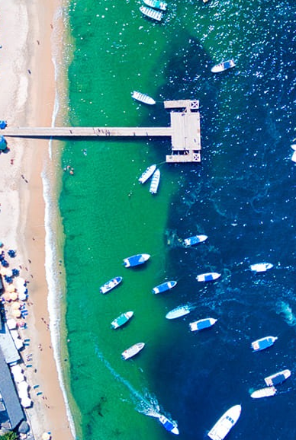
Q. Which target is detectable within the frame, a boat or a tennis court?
boat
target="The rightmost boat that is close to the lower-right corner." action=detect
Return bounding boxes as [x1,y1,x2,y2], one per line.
[265,371,292,386]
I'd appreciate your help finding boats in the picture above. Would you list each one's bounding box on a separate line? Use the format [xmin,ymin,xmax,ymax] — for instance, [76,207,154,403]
[140,8,163,21]
[150,169,160,195]
[99,278,122,293]
[144,0,169,10]
[131,90,155,104]
[109,312,134,331]
[165,305,192,318]
[189,318,217,333]
[250,338,277,353]
[183,236,208,247]
[121,343,144,361]
[250,386,278,398]
[211,59,237,71]
[249,262,273,271]
[265,371,292,386]
[157,414,179,434]
[122,255,151,269]
[208,404,240,440]
[152,281,178,296]
[195,272,221,283]
[137,165,156,185]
